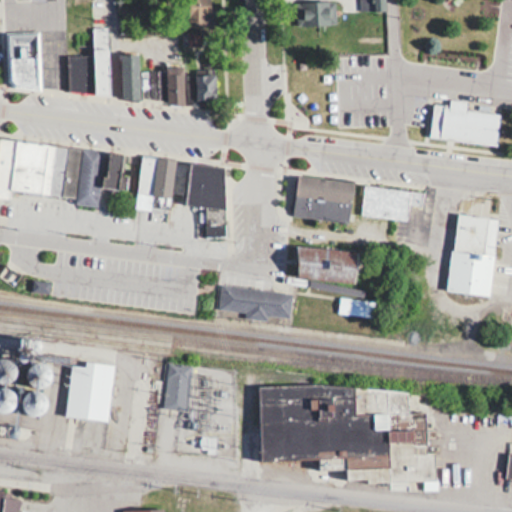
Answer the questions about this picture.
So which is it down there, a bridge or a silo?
silo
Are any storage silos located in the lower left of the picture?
Yes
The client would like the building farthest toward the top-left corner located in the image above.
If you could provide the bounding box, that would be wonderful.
[7,32,42,90]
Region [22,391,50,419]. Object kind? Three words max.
silo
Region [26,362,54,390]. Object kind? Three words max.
silo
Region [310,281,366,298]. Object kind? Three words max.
shed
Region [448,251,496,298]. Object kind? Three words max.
building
